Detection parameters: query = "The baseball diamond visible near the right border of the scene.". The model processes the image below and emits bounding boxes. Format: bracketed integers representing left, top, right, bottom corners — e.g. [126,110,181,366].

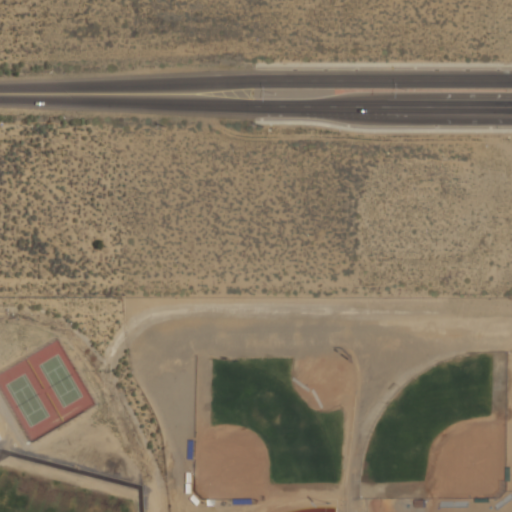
[360,352,508,500]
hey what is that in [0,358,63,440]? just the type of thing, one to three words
tennis court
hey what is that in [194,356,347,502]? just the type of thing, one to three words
baseball field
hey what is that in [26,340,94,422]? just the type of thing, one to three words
tennis court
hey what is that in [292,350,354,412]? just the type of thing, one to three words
baseball field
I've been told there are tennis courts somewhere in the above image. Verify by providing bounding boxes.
[0,358,63,440]
[26,340,94,422]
